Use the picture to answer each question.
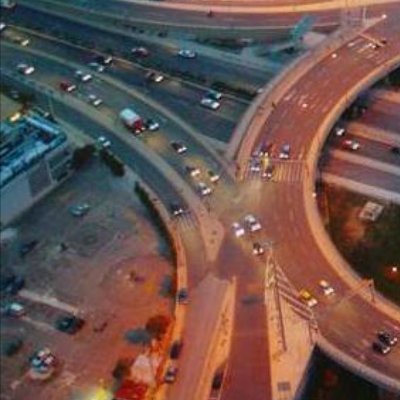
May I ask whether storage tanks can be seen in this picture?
No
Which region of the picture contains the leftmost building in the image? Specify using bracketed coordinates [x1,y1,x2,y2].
[0,108,70,227]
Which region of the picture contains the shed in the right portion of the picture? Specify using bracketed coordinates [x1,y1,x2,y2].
[358,198,384,221]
